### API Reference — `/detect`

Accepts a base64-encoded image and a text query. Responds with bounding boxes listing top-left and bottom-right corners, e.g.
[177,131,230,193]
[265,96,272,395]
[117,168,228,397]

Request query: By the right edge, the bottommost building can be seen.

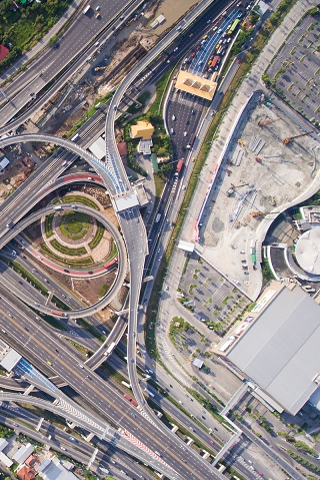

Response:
[202,279,320,419]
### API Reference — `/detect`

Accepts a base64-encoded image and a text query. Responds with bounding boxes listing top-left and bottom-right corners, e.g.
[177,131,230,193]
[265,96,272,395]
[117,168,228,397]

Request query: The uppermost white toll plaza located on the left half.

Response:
[111,191,140,214]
